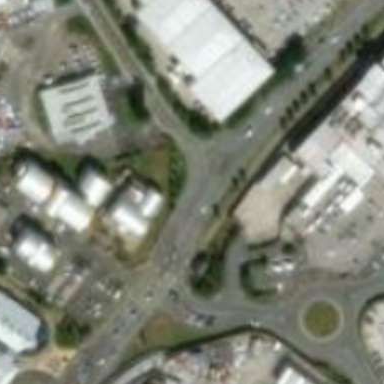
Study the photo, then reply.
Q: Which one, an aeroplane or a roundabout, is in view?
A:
roundabout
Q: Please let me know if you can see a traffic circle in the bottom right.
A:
Yes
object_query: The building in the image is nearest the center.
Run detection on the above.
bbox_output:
[142,189,164,218]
